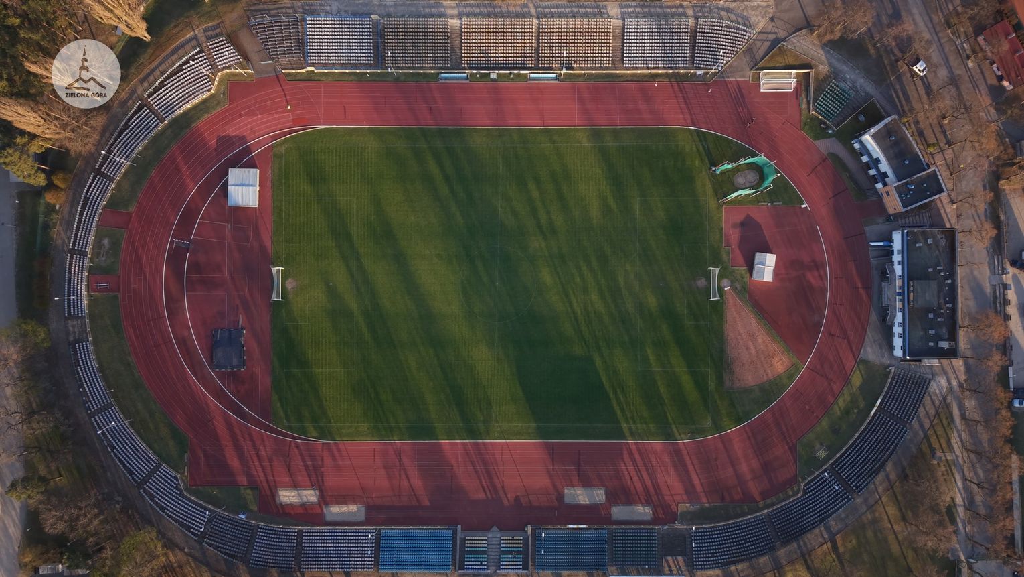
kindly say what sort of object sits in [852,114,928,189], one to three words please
building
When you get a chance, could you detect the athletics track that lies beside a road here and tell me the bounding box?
[89,70,887,526]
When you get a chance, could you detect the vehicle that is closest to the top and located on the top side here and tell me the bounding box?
[910,59,929,78]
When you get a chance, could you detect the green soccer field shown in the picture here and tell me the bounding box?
[272,128,804,440]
